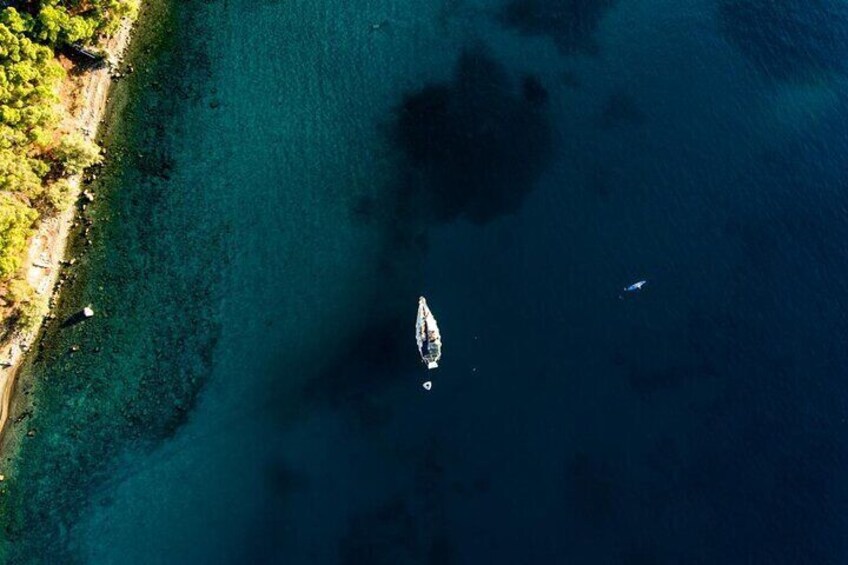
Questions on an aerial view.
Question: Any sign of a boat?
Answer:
Yes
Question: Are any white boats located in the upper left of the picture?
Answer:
No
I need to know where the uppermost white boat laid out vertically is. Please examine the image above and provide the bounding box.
[414,294,441,369]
